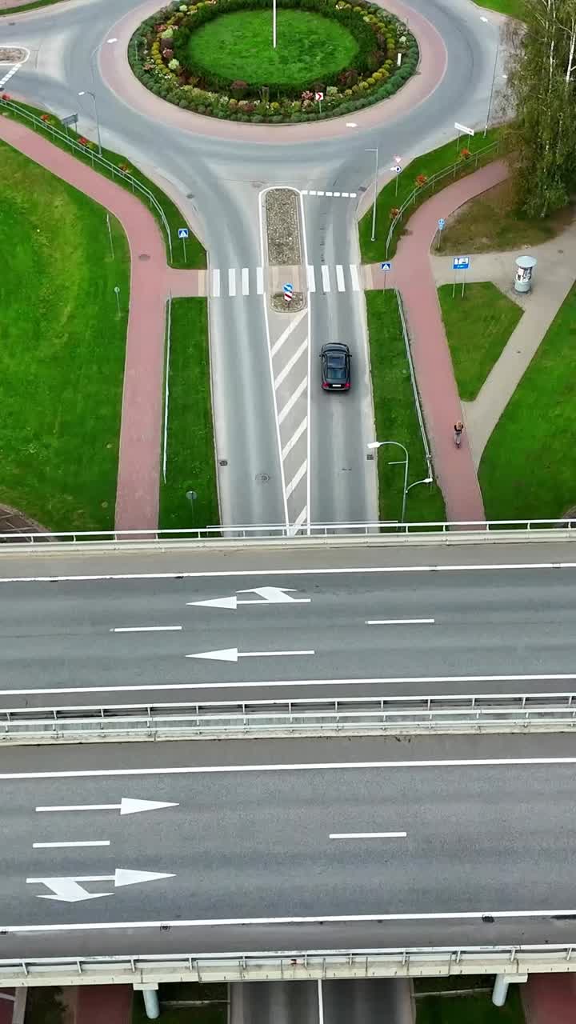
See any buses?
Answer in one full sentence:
No, the scene contains no bus.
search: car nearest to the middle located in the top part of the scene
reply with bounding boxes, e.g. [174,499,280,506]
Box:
[319,339,352,390]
